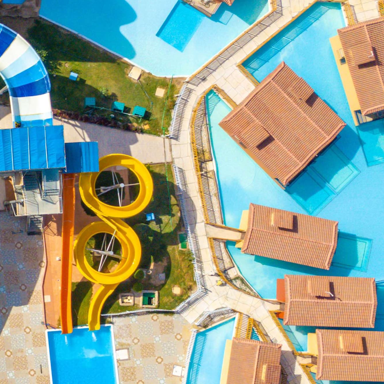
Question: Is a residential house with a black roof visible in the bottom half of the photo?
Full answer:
No, I can find no residential house with a black roof in the bottom half of the photo.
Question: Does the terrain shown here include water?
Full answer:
Yes, there is water in the image.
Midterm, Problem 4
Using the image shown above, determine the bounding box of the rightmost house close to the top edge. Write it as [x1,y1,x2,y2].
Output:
[330,14,384,128]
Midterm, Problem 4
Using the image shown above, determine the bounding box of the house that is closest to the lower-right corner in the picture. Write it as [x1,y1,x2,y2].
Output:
[305,329,384,382]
